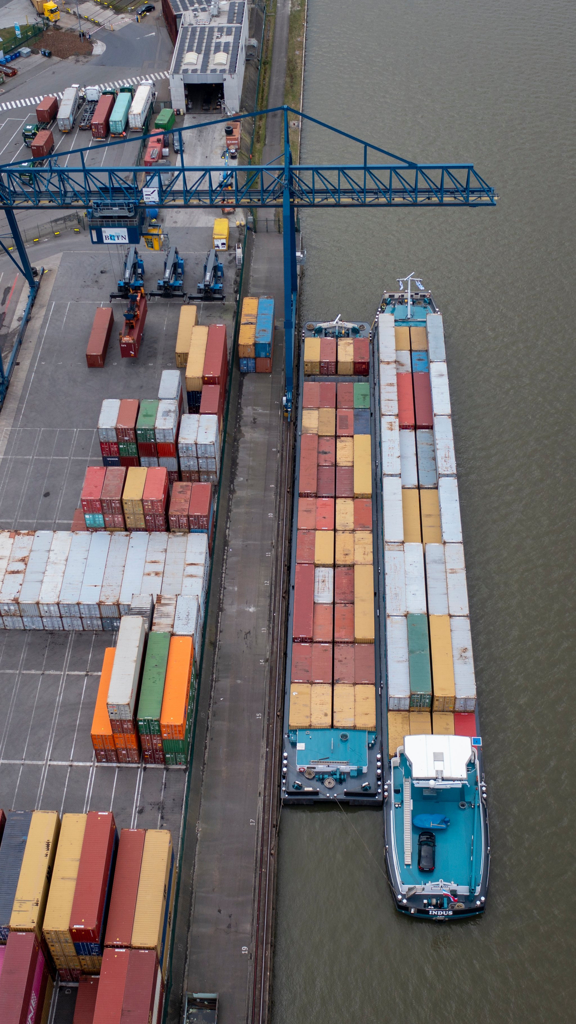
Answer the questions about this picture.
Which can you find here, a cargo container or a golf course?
cargo container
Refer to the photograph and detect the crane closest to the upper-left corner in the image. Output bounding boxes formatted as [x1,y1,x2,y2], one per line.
[0,104,502,416]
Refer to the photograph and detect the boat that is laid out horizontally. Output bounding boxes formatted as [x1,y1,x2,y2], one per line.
[412,813,451,829]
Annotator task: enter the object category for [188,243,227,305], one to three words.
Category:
work vehicle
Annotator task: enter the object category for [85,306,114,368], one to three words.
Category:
shipping container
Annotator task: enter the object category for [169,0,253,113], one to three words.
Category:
building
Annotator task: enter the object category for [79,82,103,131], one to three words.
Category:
truck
